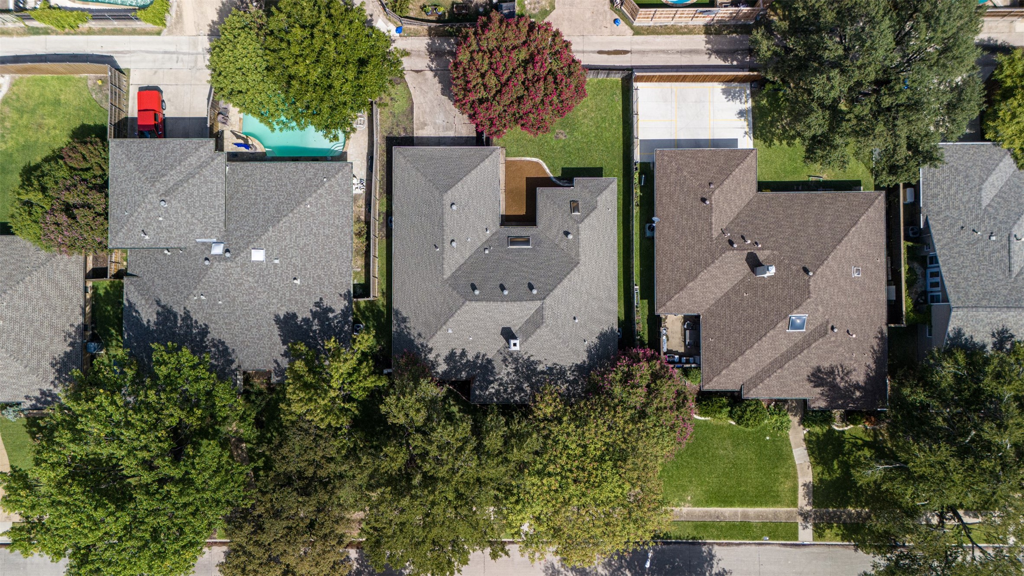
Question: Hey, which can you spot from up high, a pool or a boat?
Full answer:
The one in the frame is a pool.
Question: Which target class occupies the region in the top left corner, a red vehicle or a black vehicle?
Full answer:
Looking in the top left corner, you will find a red vehicle.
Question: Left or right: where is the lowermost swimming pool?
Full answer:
The lowermost swimming pool is on the left side of the image.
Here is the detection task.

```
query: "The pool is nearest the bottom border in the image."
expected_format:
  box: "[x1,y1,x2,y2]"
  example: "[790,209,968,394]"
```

[238,88,351,161]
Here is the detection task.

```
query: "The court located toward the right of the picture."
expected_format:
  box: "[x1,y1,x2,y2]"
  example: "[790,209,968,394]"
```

[637,81,753,162]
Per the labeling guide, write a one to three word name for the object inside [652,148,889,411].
house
